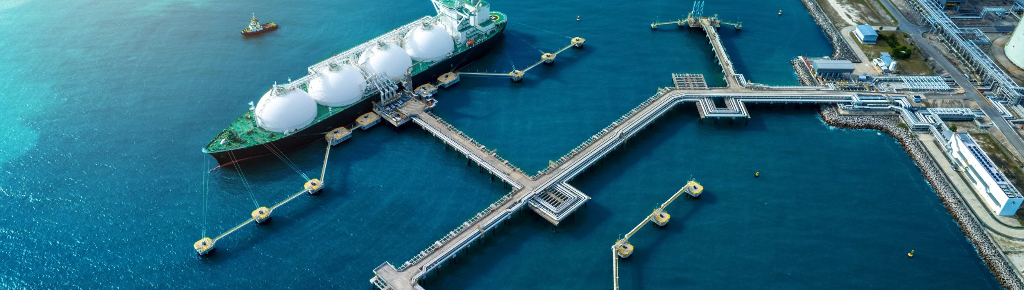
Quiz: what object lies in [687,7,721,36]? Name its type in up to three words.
pier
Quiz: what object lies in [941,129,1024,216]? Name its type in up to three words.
building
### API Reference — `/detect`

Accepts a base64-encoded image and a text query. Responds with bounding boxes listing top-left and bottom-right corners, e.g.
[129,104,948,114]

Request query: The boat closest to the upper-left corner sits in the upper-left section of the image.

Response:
[241,17,277,37]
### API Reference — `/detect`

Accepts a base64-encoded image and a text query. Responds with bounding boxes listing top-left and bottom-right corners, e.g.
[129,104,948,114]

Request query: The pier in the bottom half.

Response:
[368,261,429,290]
